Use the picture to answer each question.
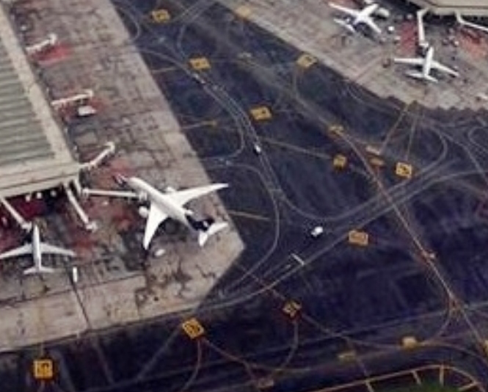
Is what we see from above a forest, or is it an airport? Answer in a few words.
airport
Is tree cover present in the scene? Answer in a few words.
No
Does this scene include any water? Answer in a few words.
No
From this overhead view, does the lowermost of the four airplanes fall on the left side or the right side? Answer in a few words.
left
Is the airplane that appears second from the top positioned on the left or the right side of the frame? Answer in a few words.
right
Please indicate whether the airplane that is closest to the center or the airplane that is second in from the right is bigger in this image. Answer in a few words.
the airplane that is closest to the center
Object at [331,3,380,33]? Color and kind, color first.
white airplane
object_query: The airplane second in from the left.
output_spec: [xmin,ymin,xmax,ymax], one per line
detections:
[128,175,237,244]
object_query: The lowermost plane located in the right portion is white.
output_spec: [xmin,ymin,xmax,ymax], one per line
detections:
[397,47,455,84]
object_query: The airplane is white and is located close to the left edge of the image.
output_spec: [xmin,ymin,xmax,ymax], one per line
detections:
[3,225,70,273]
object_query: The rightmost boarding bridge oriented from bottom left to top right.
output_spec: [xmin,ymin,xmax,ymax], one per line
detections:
[77,143,117,175]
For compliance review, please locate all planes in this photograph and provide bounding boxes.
[331,3,380,33]
[3,225,70,273]
[128,175,237,244]
[397,47,455,84]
